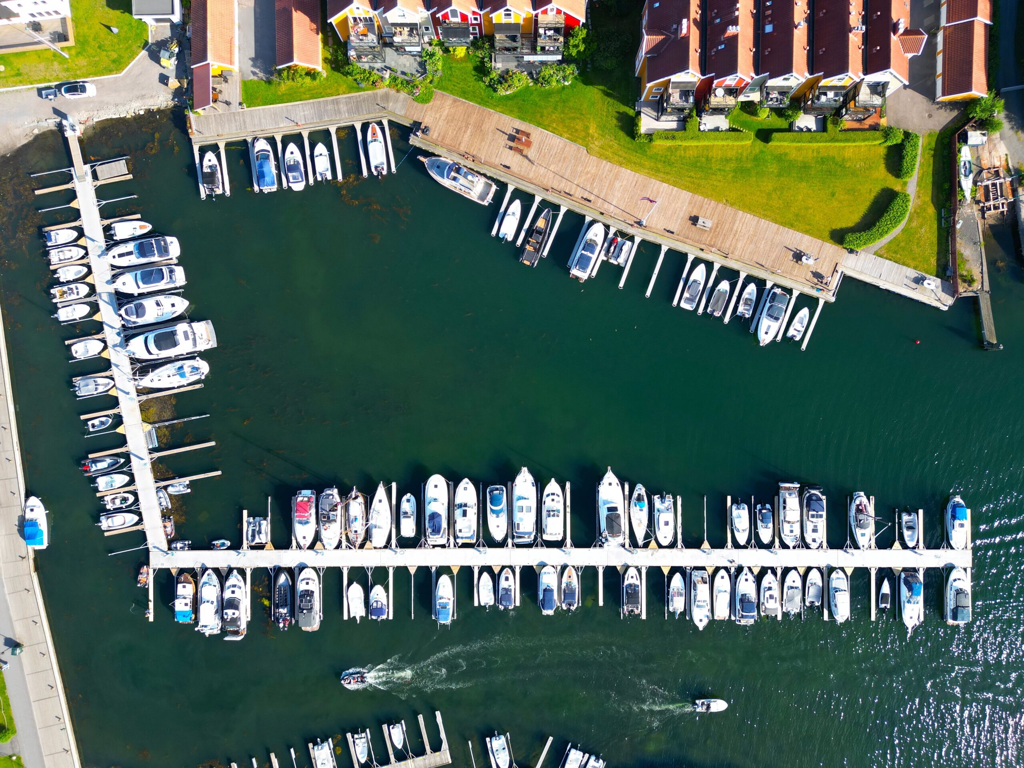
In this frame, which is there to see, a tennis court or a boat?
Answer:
boat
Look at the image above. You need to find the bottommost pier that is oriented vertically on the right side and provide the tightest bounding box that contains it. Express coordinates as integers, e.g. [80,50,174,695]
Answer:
[974,292,1003,350]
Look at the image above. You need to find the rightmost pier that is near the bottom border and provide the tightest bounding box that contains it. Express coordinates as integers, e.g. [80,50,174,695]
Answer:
[358,748,451,768]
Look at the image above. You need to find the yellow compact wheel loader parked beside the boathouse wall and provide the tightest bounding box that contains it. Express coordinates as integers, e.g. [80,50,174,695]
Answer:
[155,34,183,68]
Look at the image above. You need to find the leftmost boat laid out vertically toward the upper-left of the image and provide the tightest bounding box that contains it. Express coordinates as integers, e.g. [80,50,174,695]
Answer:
[199,149,224,199]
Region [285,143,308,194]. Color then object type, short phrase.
white boat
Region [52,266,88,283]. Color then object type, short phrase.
white boat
